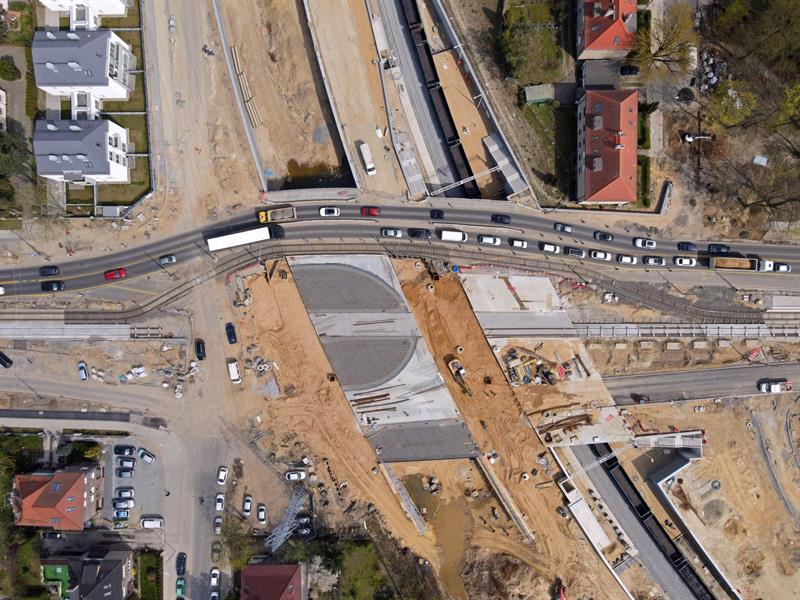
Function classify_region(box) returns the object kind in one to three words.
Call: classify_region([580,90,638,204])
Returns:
house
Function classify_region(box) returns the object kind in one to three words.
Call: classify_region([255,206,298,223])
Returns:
vehicle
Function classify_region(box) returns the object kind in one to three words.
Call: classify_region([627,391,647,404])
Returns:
vehicle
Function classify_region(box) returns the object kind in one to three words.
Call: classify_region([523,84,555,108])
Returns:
shed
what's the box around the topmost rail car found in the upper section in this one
[398,0,420,31]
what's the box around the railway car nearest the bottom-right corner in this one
[677,559,720,600]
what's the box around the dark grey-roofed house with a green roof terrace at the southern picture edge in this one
[38,538,138,600]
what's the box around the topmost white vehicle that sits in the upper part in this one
[357,141,376,175]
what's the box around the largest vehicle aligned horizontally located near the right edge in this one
[712,258,776,273]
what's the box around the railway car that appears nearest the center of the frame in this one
[449,142,479,197]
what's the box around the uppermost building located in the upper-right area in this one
[578,0,640,65]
